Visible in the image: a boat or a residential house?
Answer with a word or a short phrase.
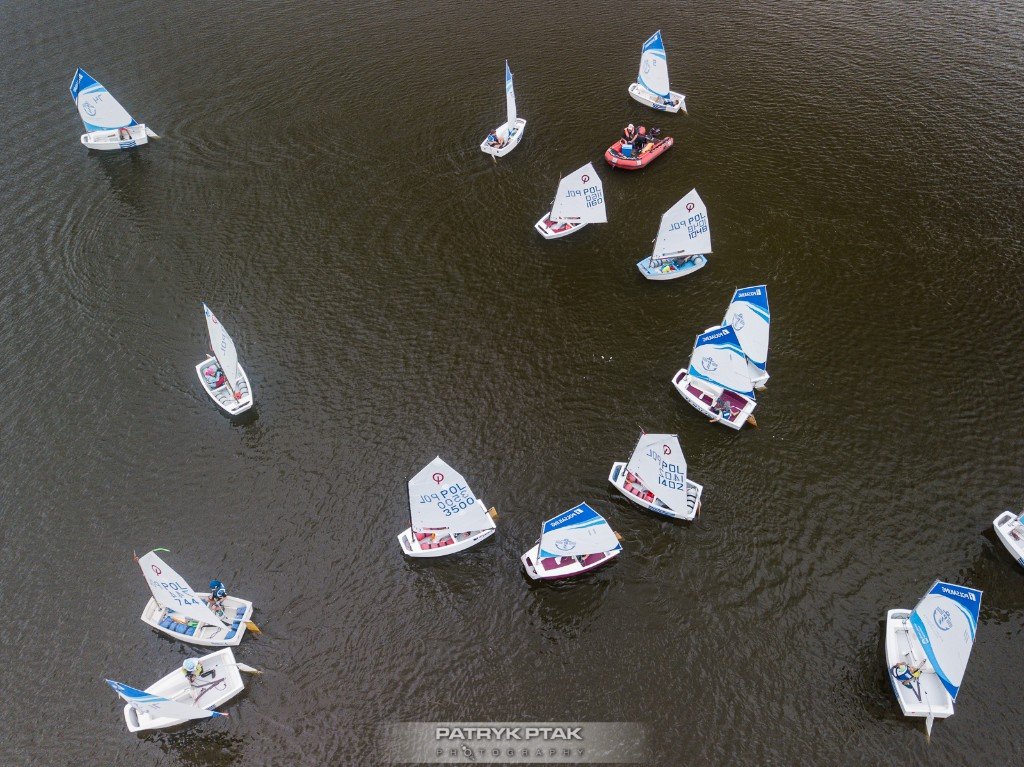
boat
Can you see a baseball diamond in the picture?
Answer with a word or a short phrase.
No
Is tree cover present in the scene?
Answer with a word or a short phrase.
No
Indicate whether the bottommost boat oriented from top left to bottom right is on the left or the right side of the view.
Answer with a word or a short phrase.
left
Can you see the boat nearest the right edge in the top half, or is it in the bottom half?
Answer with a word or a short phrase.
bottom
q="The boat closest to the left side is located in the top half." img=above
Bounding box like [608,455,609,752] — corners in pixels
[66,66,159,149]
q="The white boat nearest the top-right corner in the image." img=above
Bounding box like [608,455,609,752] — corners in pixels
[628,29,689,113]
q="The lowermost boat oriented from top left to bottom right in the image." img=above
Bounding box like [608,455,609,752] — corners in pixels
[132,549,266,646]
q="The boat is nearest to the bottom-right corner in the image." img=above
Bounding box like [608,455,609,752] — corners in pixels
[883,573,985,741]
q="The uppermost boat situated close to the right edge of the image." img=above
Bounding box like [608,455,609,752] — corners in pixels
[995,510,1024,566]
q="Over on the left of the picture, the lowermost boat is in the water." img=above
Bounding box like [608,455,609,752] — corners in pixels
[106,648,265,733]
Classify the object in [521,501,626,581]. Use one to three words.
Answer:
boat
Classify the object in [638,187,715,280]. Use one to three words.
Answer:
boat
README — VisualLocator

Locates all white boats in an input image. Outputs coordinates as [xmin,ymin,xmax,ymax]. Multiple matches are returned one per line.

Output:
[481,59,527,162]
[66,66,159,149]
[995,510,1024,566]
[132,549,266,646]
[398,455,504,558]
[707,282,772,398]
[638,187,715,280]
[608,431,703,519]
[883,573,985,741]
[673,324,758,430]
[536,160,609,239]
[194,301,252,412]
[628,29,689,113]
[106,648,265,733]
